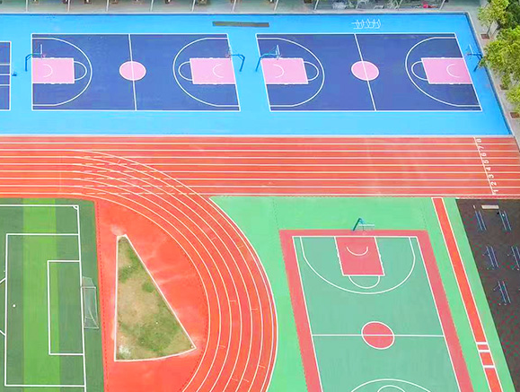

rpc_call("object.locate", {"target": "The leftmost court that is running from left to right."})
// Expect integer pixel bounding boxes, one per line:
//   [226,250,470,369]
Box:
[32,33,241,111]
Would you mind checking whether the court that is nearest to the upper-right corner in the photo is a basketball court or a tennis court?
basketball court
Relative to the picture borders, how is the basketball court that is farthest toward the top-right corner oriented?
from side to side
